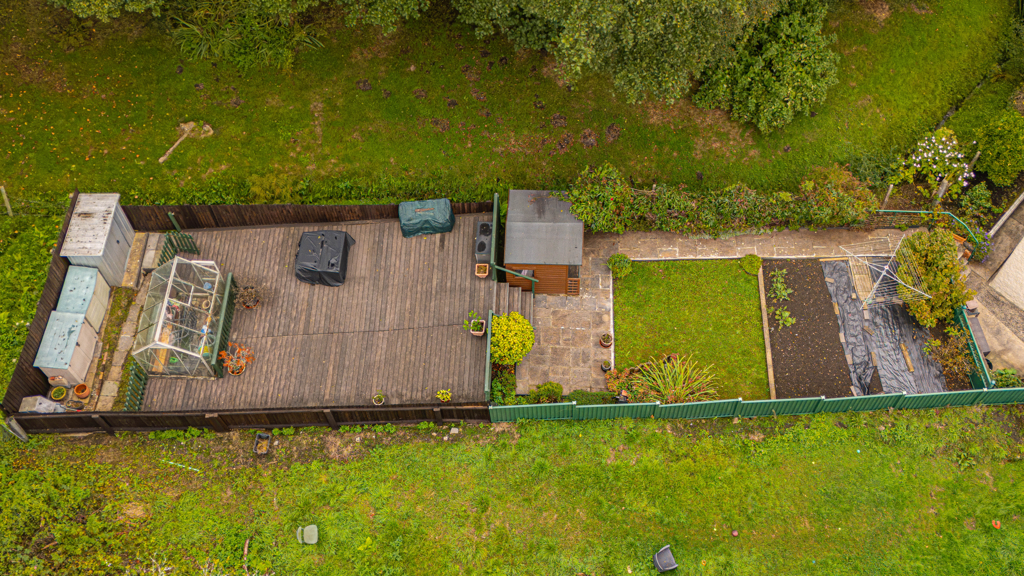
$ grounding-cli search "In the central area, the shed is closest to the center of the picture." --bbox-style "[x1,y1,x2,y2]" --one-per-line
[503,196,585,295]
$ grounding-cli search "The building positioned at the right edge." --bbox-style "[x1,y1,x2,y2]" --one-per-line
[988,234,1024,313]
